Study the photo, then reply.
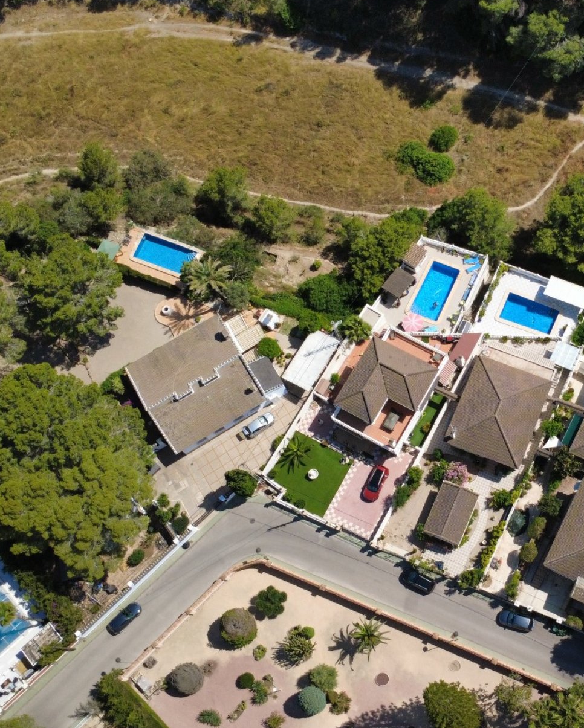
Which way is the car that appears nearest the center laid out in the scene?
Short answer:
on a diagonal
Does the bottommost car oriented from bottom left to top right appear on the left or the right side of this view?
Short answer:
left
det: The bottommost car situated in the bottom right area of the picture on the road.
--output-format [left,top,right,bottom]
[494,607,538,637]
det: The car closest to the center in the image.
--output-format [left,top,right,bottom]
[237,412,278,443]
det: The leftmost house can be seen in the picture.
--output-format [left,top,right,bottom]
[124,312,266,456]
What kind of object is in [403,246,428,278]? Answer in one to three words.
shed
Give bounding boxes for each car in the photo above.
[237,412,278,443]
[361,462,391,505]
[101,599,147,641]
[397,567,440,598]
[494,607,538,637]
